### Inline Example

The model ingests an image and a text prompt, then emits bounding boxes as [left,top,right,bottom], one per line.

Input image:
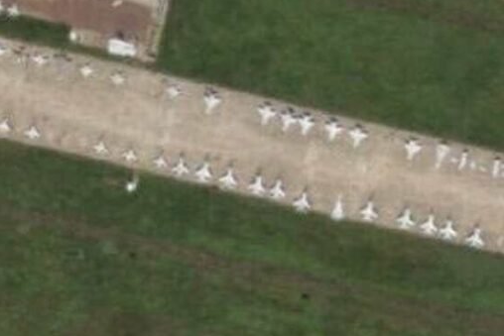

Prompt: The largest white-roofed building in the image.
[106,37,136,57]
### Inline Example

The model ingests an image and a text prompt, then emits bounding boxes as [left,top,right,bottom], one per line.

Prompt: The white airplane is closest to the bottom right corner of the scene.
[467,228,484,250]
